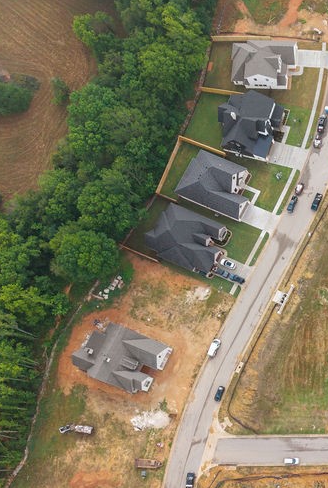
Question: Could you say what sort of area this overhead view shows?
residential area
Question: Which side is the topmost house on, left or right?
right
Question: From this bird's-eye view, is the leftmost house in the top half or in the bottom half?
bottom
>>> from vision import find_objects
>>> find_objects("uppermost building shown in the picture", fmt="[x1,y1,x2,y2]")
[227,40,300,89]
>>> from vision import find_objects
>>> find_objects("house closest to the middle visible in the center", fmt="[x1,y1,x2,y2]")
[140,202,229,276]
